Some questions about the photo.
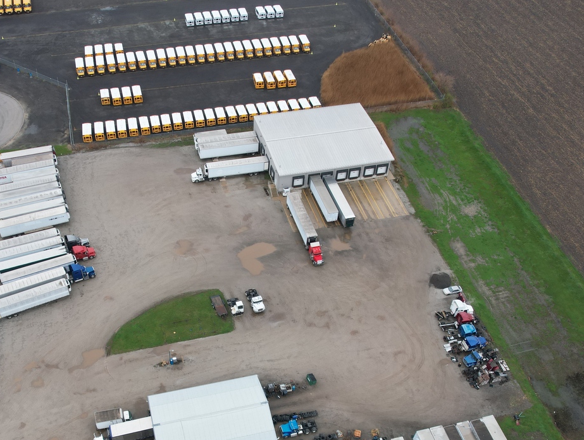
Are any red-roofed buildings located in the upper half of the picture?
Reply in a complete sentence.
No, no red-roofed building is visible in the upper half of the picture.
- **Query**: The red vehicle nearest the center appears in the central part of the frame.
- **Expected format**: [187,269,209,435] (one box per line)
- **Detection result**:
[304,238,323,265]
